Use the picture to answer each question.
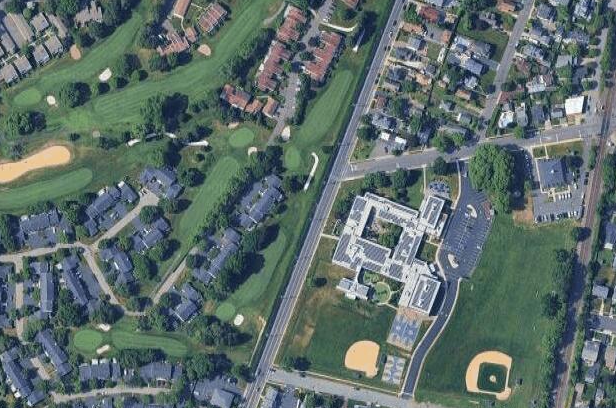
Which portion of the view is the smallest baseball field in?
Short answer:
bottom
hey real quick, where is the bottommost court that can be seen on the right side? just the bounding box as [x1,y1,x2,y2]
[382,355,405,385]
